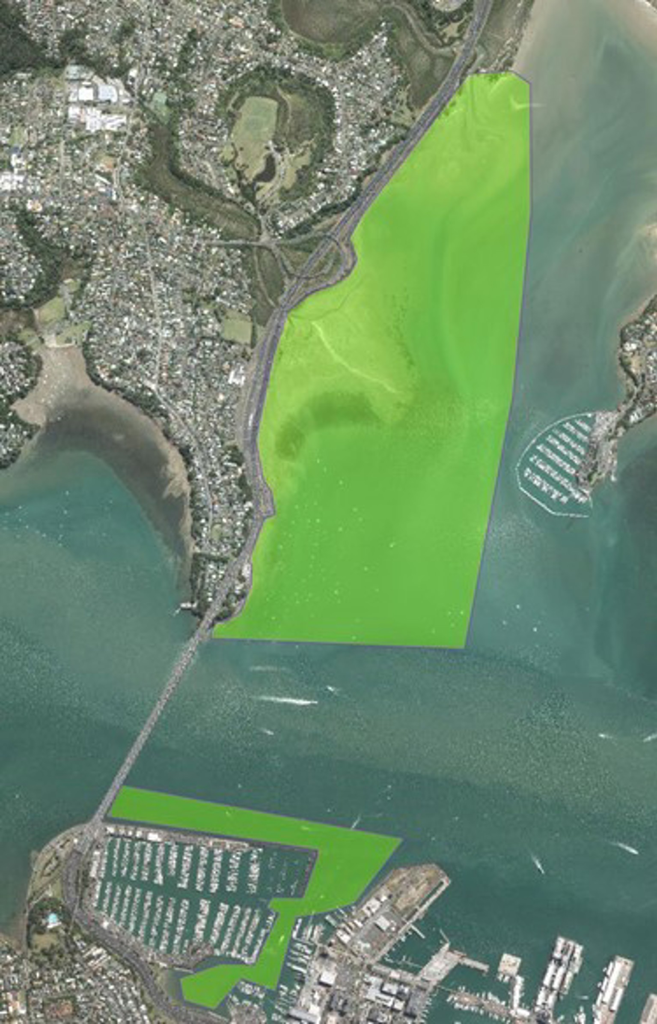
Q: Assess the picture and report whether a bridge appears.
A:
Yes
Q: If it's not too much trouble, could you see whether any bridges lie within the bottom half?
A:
Yes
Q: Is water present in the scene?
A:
Yes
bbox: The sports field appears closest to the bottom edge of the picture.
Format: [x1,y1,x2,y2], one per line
[224,310,252,343]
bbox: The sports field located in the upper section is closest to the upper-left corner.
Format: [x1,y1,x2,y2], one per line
[232,96,278,176]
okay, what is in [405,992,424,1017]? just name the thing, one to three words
building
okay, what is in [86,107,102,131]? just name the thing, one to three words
building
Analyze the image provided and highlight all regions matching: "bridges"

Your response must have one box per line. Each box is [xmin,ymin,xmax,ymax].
[91,616,212,824]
